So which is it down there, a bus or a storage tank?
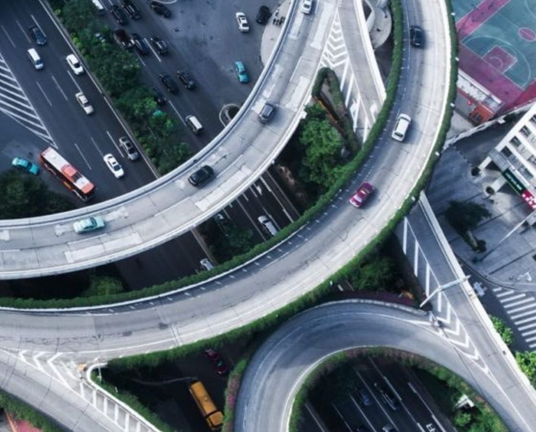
bus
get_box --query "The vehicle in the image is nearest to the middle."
[255,210,278,237]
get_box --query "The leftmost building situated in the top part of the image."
[454,69,506,128]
